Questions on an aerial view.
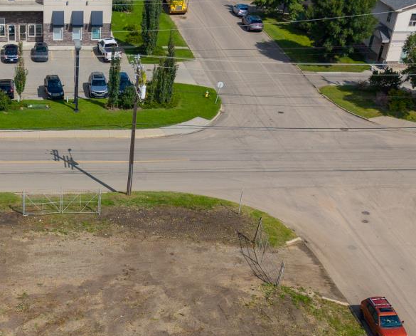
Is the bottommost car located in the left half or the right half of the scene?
right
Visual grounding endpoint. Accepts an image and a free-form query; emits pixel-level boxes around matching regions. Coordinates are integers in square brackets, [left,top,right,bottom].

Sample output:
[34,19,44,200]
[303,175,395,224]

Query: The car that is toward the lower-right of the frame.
[354,296,407,336]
